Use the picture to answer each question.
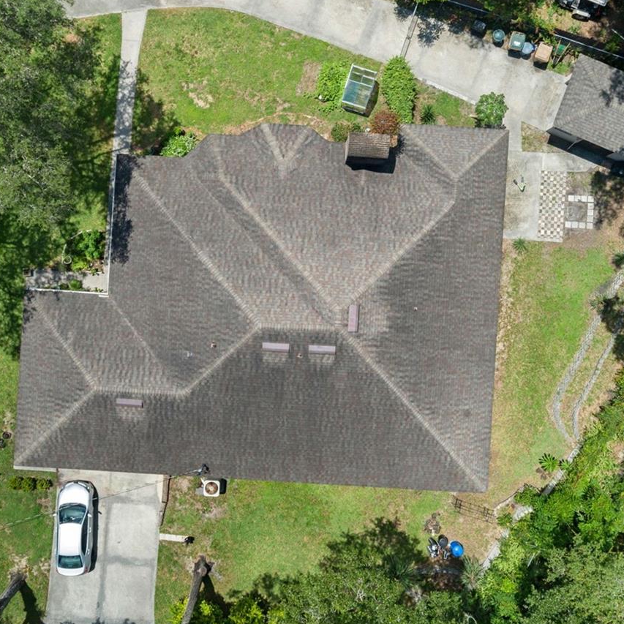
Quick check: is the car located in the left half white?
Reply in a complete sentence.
Yes, the car located in the left half is indeed white.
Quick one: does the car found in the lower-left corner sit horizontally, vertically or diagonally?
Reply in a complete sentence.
What the image shows is the car found in the lower-left corner lying vertically.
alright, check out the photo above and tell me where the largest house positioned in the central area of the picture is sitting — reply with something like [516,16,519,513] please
[14,122,509,494]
